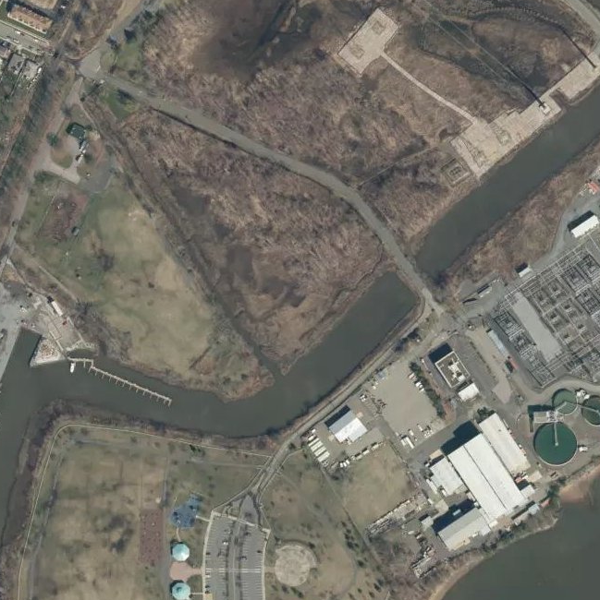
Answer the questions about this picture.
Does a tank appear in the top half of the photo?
No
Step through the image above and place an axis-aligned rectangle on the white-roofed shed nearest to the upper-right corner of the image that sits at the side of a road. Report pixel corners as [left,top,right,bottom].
[570,214,600,238]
